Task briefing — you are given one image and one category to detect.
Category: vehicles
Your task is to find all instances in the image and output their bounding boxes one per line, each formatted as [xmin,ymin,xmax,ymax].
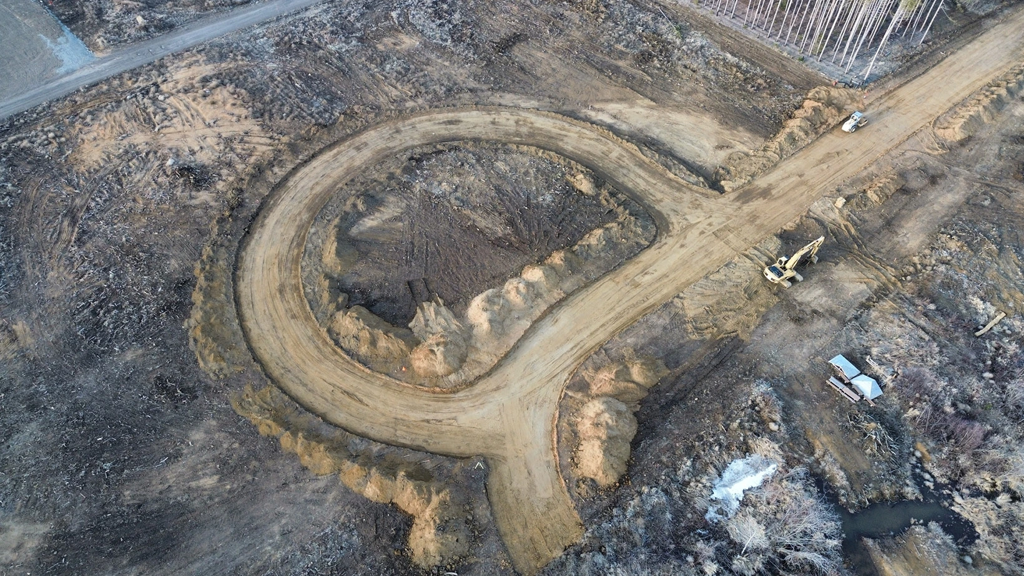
[839,112,870,136]
[763,233,828,296]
